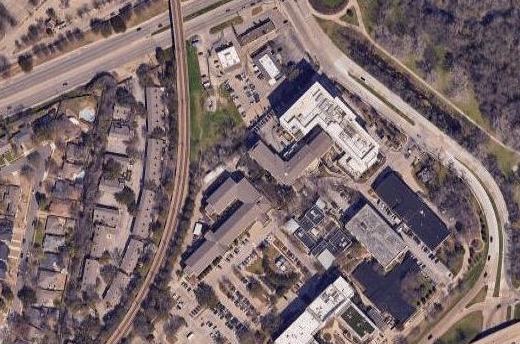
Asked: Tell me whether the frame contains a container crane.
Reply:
No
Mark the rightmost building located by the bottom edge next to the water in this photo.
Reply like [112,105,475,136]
[274,277,379,344]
